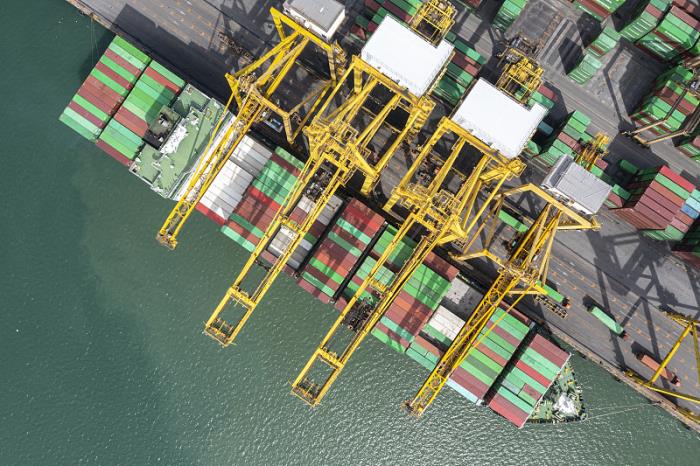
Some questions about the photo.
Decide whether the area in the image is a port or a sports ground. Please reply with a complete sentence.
This looks like a port.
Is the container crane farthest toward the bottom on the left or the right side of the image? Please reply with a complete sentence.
The container crane farthest toward the bottom appears in the right half of the scene.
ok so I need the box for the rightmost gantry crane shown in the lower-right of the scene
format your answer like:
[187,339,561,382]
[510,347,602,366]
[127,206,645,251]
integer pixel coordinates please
[619,309,700,427]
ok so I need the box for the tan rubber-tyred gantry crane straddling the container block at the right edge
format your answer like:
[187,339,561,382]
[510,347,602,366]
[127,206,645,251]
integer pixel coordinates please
[619,58,700,150]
